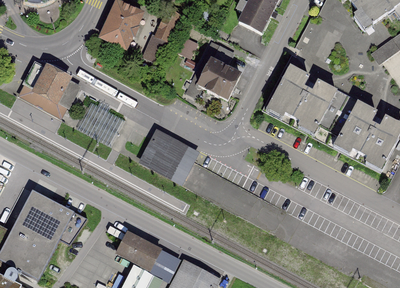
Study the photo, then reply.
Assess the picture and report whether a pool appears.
No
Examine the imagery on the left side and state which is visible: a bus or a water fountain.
bus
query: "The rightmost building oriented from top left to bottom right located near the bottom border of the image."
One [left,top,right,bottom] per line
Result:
[116,232,181,284]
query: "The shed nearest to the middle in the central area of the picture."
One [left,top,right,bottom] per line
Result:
[140,129,199,186]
